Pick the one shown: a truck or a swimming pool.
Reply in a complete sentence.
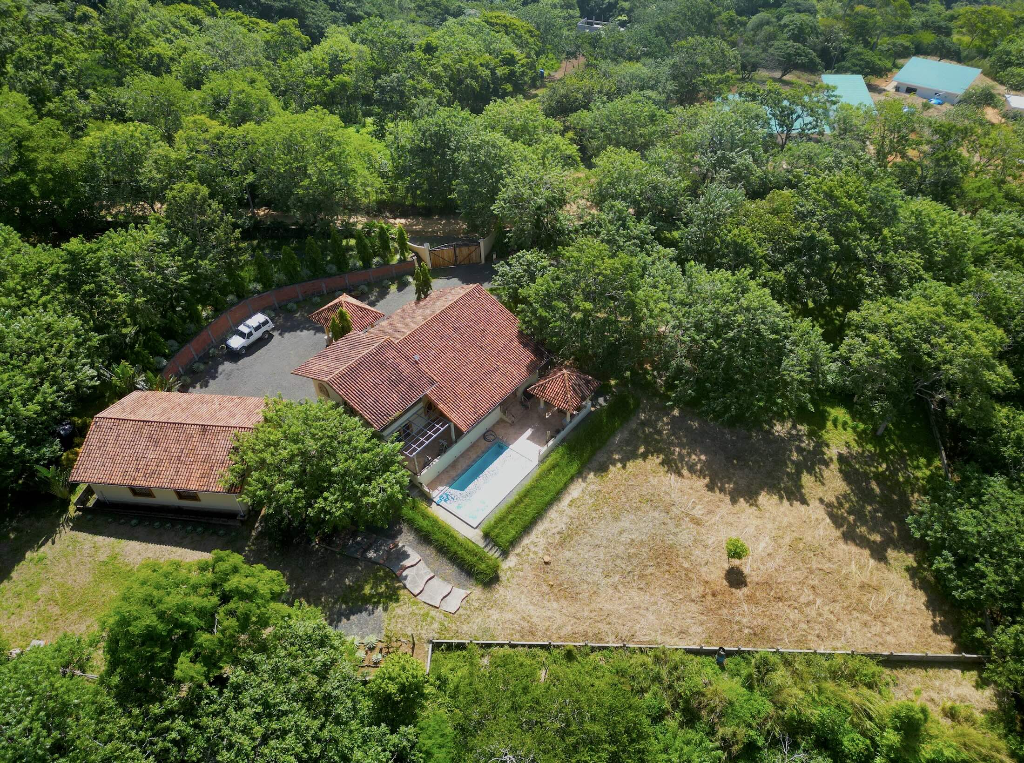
Looking from above, you can make out a swimming pool.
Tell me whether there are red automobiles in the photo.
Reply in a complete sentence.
No, this view has no red automobile in it.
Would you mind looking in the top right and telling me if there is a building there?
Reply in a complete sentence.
Yes, a building appears in the top right.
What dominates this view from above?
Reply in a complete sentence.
The bulk of the photo consists of trees.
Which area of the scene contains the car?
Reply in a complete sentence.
The car appears toward the left of the photo.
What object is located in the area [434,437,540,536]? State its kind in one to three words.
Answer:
swimming pool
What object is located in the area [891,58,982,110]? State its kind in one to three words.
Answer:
house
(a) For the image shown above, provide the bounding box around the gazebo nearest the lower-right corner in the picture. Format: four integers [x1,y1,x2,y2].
[524,360,602,425]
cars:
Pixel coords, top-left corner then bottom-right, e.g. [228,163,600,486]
[219,311,273,357]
